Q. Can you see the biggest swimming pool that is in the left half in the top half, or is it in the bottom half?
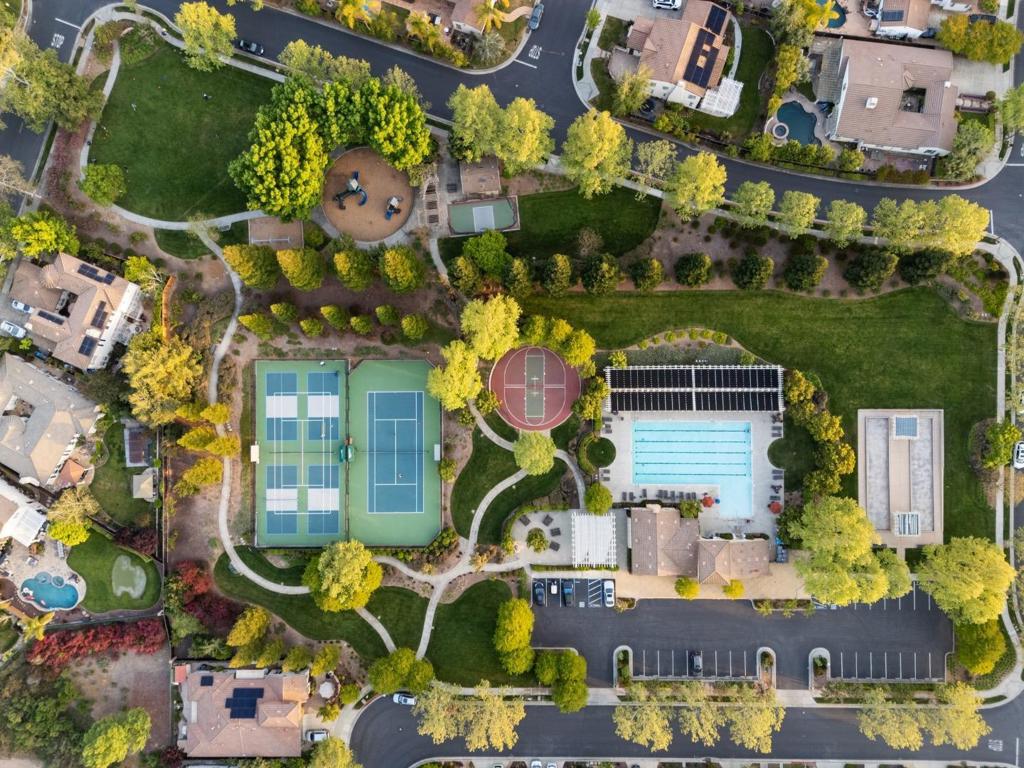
bottom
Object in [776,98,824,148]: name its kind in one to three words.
swimming pool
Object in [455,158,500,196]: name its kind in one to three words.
shed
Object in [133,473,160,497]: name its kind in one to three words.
gazebo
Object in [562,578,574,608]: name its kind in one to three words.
vehicle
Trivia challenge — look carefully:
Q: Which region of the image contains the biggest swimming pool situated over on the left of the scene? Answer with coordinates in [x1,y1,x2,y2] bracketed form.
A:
[17,571,82,612]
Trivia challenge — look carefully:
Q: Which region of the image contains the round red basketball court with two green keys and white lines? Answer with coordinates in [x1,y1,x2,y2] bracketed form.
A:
[490,346,581,429]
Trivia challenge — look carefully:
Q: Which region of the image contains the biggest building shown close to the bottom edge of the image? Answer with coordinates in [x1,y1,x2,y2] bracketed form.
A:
[187,667,312,757]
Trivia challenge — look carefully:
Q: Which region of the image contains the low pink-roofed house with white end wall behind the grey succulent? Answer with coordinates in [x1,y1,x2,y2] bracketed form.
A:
[452,0,498,38]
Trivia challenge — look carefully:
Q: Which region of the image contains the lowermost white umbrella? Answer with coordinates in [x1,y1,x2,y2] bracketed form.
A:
[319,680,334,696]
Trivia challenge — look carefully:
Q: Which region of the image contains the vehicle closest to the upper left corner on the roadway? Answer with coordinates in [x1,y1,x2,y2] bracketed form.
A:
[239,40,264,56]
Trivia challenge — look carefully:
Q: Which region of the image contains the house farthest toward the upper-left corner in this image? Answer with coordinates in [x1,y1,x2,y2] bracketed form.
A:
[10,255,142,368]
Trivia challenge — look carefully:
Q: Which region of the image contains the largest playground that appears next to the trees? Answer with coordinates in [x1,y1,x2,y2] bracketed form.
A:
[321,147,415,240]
